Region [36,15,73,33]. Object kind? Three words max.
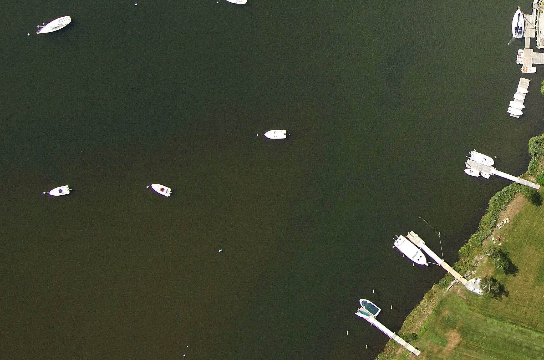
boat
